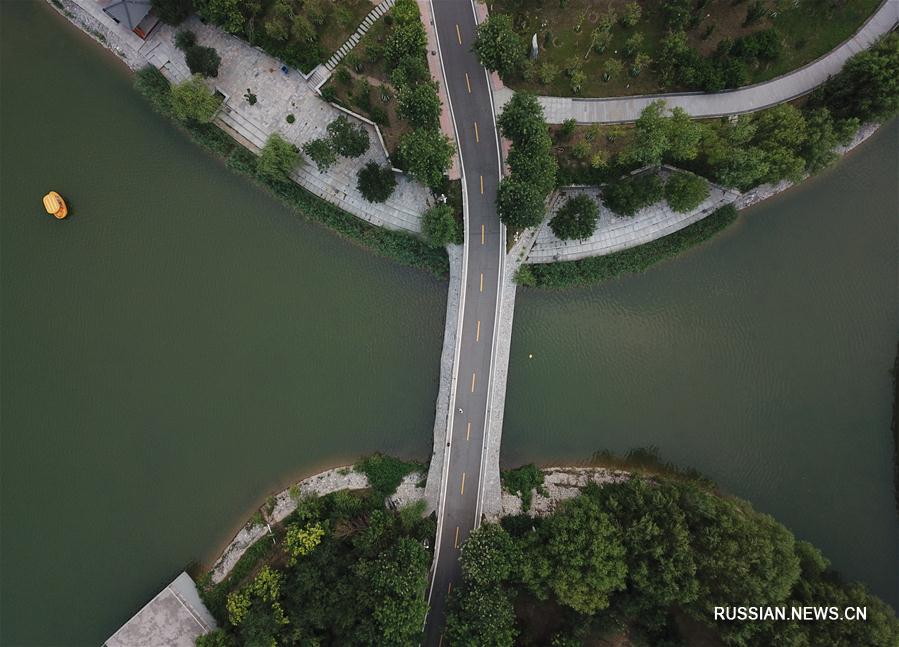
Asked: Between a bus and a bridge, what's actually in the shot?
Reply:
bridge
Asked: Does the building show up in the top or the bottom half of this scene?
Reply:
top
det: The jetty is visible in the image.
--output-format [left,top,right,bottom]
[100,567,225,647]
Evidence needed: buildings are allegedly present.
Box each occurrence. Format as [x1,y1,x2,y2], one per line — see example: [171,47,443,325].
[102,0,160,42]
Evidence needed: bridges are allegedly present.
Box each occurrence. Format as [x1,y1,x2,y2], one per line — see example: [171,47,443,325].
[424,238,520,517]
